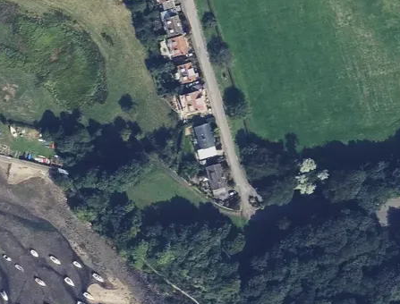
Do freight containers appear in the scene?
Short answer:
No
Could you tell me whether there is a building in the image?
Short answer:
Yes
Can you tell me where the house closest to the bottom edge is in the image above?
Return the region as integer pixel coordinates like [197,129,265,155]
[203,162,226,197]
